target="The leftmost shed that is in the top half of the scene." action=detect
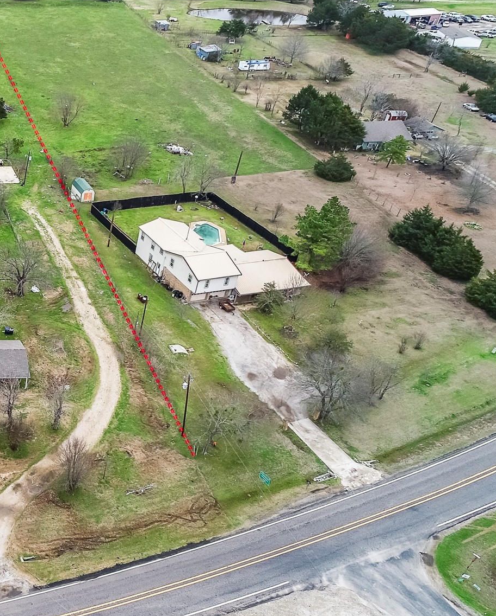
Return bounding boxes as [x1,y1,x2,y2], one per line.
[72,177,97,201]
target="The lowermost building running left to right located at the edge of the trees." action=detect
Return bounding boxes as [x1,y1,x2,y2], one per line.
[136,218,308,304]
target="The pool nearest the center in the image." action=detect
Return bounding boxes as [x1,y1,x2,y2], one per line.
[188,219,230,246]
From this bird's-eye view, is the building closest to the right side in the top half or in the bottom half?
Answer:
top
